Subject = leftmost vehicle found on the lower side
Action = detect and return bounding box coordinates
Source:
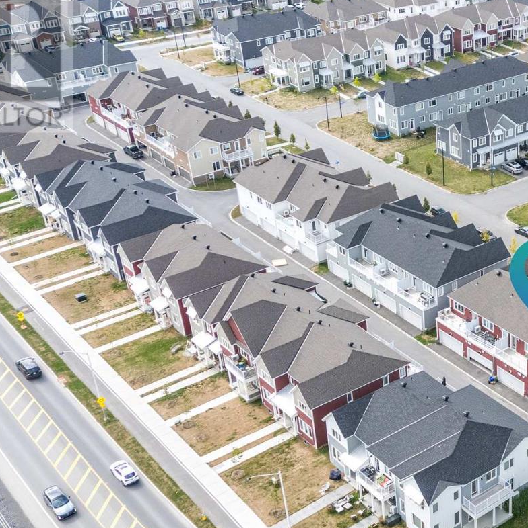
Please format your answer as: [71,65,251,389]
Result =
[17,360,41,381]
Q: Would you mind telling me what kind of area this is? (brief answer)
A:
residential area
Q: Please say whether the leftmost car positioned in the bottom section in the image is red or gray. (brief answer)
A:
gray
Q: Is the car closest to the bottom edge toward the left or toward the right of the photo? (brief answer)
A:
left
